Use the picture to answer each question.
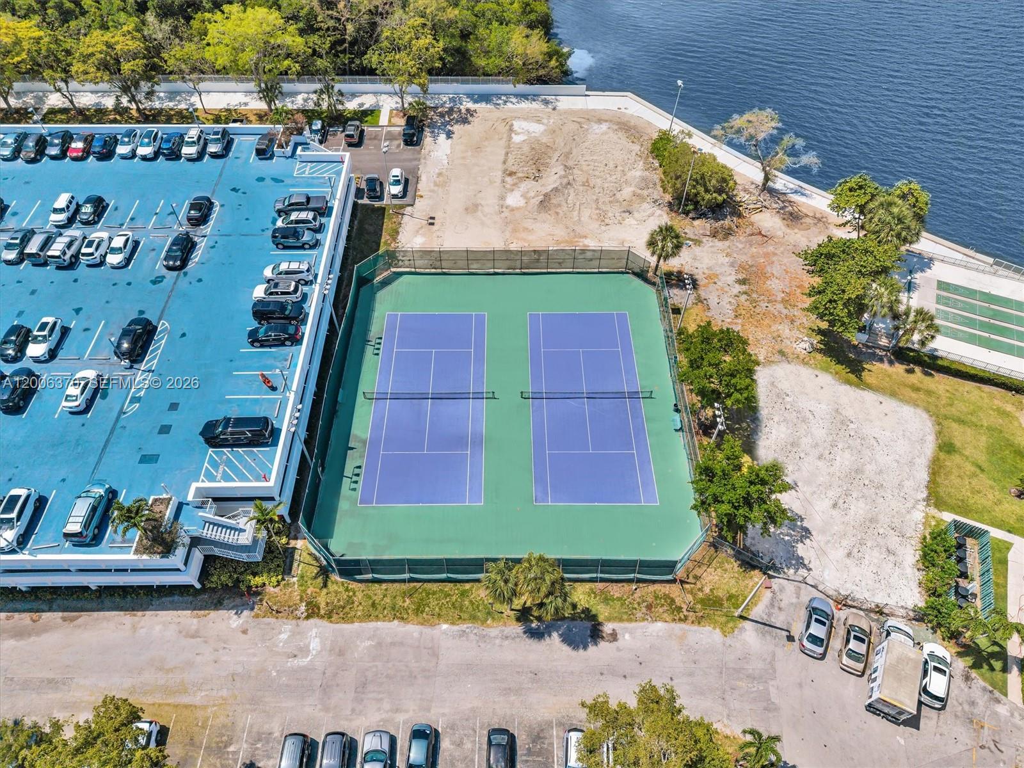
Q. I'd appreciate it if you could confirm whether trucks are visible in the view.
Yes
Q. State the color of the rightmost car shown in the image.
white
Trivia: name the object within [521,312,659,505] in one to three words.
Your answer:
tennis court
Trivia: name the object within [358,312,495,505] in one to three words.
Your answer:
tennis court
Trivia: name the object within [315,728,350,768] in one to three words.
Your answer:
car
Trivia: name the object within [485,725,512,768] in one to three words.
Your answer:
car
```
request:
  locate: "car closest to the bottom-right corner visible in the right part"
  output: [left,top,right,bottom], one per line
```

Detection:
[920,640,954,711]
